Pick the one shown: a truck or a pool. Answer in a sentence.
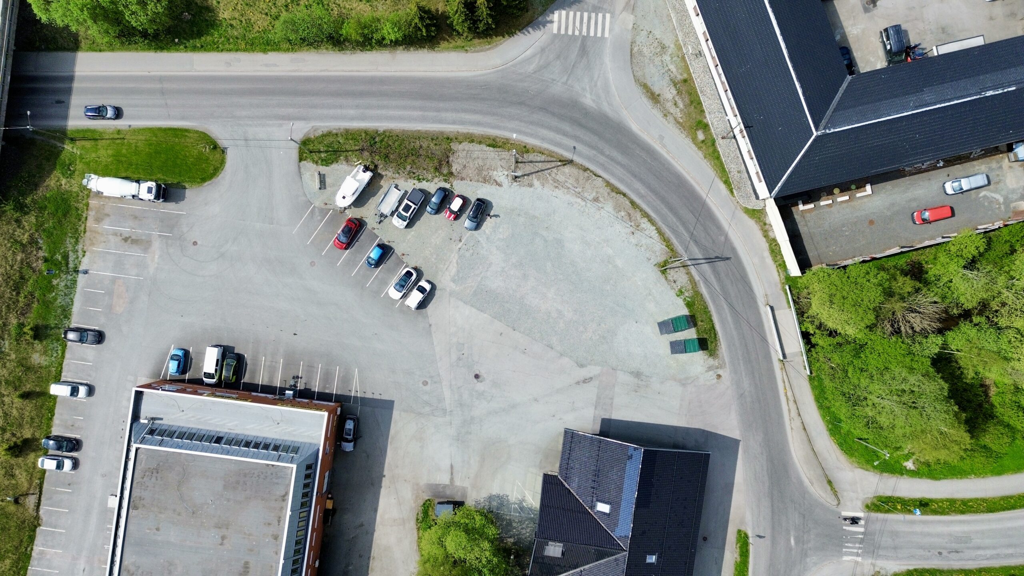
Visible in the photo is a truck.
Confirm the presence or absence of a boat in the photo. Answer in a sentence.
Yes, the picture does show a boat.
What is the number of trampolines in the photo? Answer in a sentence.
The photo contains no trampolines.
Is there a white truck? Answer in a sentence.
Yes, I can see a white truck in this picture.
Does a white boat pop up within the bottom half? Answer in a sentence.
No, no white boat appears within the bottom half.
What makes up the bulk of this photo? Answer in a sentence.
The scene is dominated by paved ground.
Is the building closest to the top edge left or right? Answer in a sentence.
It is on the right.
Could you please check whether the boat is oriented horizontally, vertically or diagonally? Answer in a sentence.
From this overhead view, the boat appears to run diagonally.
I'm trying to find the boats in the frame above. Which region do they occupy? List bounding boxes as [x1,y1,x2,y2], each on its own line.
[333,158,372,208]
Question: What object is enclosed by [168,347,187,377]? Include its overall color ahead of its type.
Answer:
blue car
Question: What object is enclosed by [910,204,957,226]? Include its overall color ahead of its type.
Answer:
red vehicle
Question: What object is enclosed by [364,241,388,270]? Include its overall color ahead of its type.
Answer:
blue car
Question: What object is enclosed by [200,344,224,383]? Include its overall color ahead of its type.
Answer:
white vehicle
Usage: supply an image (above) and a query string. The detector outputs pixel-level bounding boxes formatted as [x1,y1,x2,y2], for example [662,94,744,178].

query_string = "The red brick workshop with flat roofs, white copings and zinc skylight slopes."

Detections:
[106,380,358,576]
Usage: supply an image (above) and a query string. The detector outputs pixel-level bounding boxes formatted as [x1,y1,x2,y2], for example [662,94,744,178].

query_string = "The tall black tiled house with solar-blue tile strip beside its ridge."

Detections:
[528,422,712,576]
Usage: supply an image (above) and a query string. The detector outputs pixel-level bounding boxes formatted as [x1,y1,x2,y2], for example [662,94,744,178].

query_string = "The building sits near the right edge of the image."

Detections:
[684,0,1024,201]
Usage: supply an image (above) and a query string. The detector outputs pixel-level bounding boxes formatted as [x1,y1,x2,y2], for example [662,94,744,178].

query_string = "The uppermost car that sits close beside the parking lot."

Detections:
[83,103,120,121]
